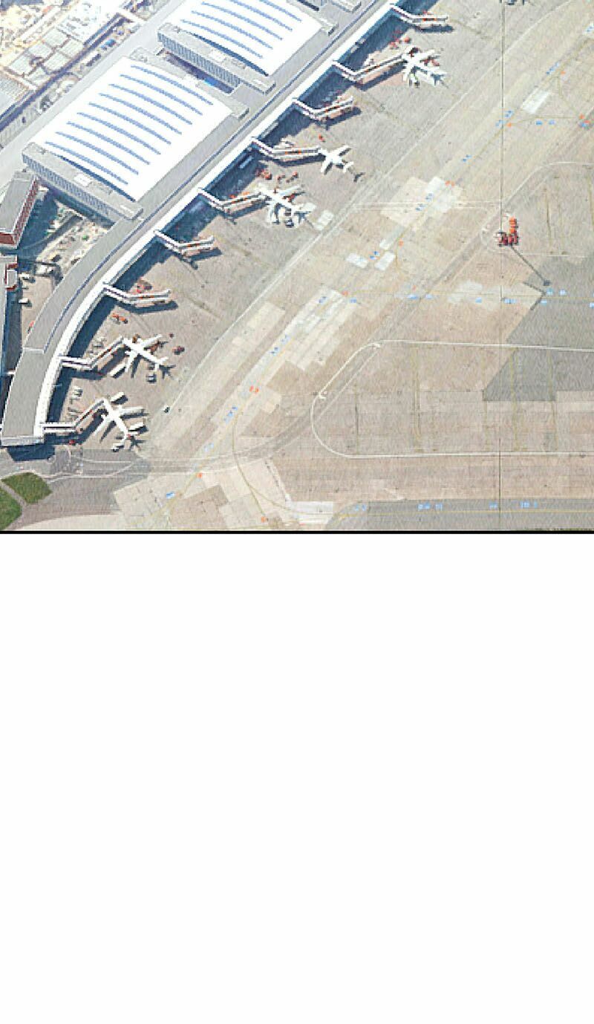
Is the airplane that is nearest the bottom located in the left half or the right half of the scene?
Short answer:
left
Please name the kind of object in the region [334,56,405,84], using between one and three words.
jet bridge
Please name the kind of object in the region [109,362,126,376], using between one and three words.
vehicle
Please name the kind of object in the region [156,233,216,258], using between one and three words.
jet bridge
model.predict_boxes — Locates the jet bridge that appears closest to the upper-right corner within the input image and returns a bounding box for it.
[391,7,449,31]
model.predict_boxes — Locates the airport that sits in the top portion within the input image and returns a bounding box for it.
[0,0,594,531]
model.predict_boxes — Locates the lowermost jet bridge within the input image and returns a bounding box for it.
[44,399,108,438]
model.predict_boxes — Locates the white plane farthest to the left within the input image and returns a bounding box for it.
[95,399,145,440]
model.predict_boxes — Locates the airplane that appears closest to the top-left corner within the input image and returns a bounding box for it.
[258,187,305,220]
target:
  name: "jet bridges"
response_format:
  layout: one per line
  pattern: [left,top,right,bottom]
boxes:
[156,233,216,258]
[253,141,321,164]
[63,337,126,372]
[391,7,449,31]
[199,193,265,216]
[293,99,355,125]
[334,56,405,84]
[104,287,172,308]
[44,399,108,438]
